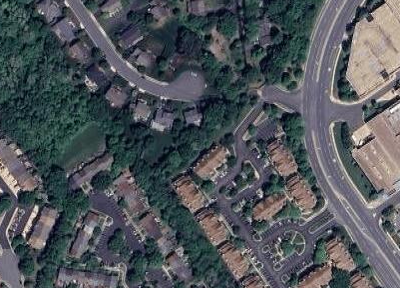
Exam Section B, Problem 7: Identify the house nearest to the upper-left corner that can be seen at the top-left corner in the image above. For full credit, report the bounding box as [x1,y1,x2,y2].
[37,0,63,22]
